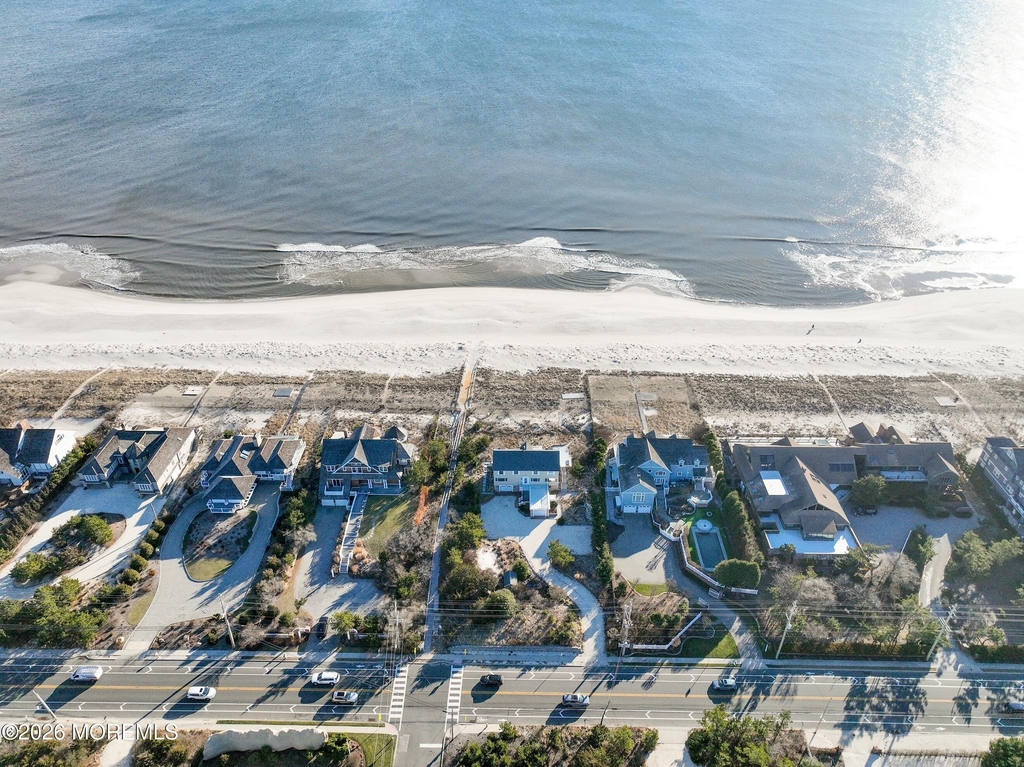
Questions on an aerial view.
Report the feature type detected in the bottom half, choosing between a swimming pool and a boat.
swimming pool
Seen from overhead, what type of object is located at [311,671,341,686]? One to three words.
car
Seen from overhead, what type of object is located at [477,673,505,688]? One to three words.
car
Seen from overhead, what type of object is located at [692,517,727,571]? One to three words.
swimming pool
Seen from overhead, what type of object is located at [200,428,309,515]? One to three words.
house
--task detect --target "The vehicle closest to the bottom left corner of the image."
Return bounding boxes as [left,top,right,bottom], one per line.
[70,665,104,683]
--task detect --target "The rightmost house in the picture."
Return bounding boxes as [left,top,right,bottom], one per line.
[972,436,1024,531]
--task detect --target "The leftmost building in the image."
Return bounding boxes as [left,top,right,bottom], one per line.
[0,414,82,501]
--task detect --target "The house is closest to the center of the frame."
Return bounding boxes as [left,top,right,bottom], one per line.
[493,439,572,515]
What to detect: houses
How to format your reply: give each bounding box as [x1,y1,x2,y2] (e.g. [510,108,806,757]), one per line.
[78,427,193,505]
[0,414,82,501]
[493,439,572,515]
[311,416,426,506]
[200,428,309,515]
[725,414,970,561]
[972,436,1024,531]
[604,426,721,512]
